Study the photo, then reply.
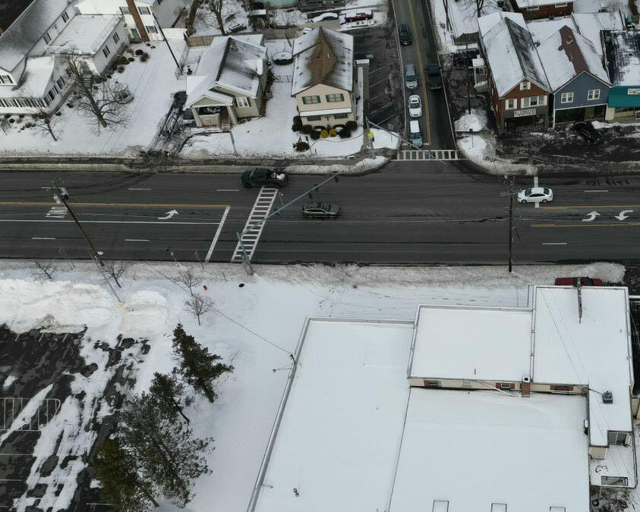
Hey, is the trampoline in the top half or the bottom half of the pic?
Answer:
top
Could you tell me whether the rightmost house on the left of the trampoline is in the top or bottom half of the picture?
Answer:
top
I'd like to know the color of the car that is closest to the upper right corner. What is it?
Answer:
black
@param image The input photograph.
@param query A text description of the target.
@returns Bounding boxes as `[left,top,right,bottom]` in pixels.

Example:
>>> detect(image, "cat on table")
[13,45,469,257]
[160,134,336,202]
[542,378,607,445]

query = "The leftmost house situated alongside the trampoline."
[179,34,272,129]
